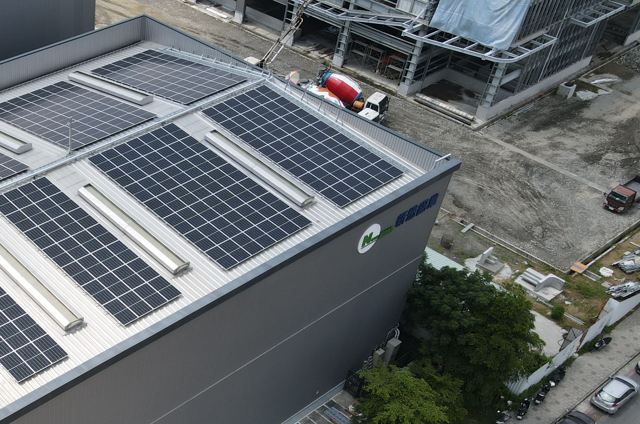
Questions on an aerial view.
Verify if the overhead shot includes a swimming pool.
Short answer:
No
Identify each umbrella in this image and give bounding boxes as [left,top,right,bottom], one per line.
[285,72,302,86]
